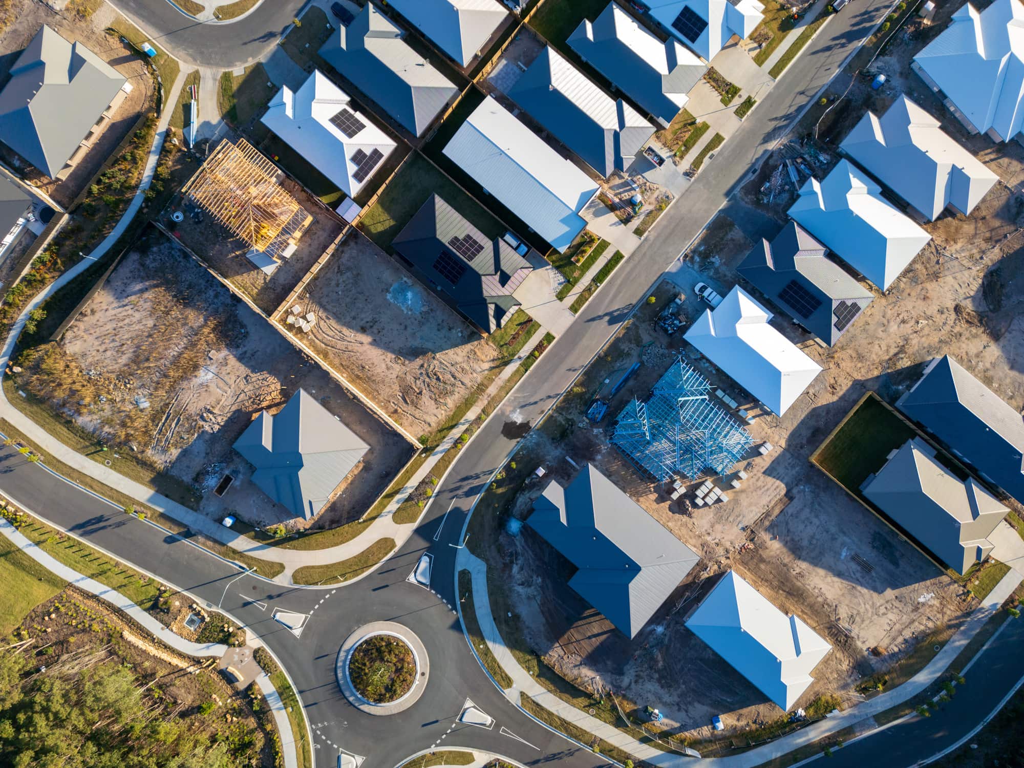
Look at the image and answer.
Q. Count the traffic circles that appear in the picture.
1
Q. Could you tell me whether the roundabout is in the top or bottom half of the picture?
bottom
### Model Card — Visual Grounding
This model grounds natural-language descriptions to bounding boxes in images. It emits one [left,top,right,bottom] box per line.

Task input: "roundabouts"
[336,621,429,715]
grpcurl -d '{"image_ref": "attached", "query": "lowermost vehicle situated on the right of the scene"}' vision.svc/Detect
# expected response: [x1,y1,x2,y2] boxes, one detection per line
[696,282,724,308]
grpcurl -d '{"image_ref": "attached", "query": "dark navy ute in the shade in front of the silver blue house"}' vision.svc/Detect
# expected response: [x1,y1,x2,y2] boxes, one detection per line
[328,0,354,27]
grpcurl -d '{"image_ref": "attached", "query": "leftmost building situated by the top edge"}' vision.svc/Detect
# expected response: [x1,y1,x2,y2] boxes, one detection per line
[0,24,133,185]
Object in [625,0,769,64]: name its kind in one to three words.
house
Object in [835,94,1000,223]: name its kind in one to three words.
house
